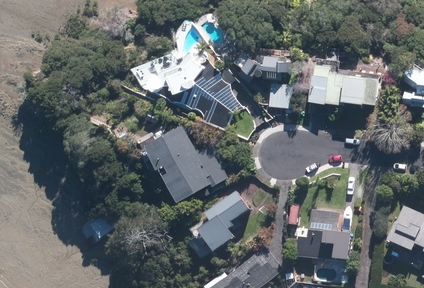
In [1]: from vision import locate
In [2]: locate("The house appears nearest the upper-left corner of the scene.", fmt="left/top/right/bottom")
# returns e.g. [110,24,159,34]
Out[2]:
[131,51,206,94]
